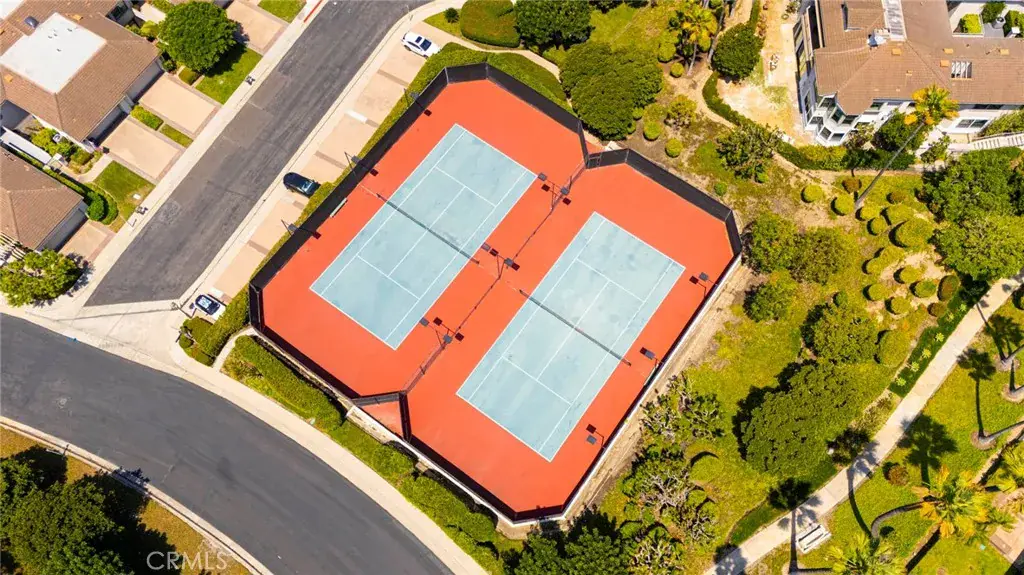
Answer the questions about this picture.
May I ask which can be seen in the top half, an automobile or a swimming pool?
automobile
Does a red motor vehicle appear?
No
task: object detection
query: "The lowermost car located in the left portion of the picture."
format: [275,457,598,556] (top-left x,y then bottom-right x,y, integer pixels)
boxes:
[190,289,227,318]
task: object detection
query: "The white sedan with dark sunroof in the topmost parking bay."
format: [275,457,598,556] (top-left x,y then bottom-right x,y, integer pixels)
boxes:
[399,30,441,60]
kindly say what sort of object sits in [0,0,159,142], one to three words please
house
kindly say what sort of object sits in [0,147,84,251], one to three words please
house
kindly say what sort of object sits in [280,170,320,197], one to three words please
car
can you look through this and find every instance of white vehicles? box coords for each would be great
[399,30,441,60]
[190,289,227,318]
